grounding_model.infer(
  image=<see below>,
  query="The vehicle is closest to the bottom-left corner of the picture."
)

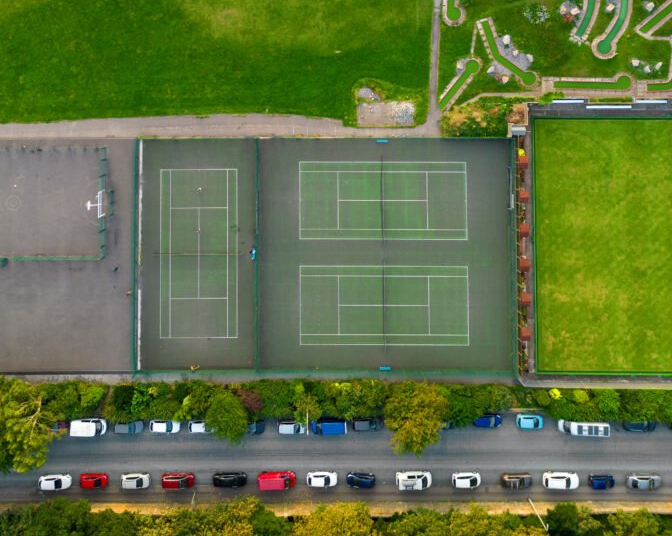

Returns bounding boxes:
[40,473,71,491]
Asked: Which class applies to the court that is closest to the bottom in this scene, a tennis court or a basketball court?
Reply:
tennis court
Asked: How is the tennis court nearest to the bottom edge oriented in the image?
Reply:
from side to side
